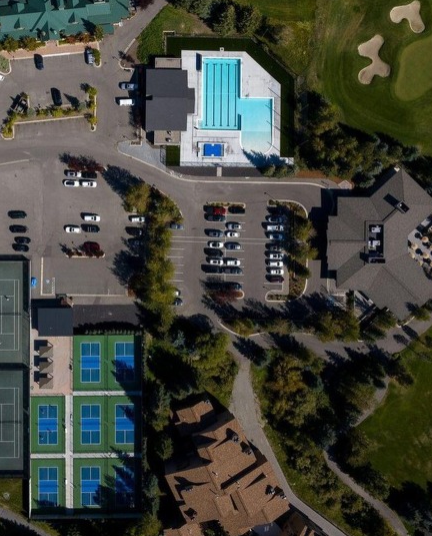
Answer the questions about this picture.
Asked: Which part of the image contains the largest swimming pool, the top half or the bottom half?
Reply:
top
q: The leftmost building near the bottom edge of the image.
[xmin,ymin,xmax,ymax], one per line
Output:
[160,397,291,536]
